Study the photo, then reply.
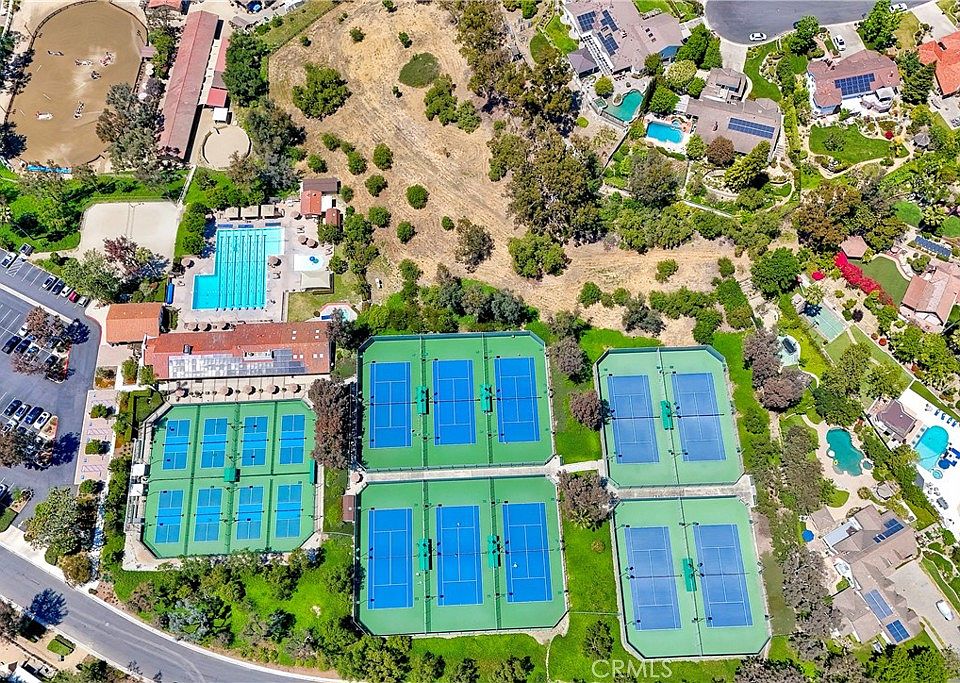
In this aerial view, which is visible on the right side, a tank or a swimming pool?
swimming pool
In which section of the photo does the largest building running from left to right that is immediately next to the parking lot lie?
left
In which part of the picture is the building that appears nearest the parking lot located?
left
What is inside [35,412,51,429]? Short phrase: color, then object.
white car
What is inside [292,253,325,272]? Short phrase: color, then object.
white swimming pool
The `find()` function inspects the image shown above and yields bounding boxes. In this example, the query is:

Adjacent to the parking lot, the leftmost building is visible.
[102,303,164,344]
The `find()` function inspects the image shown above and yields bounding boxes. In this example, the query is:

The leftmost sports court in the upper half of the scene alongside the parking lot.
[79,200,180,270]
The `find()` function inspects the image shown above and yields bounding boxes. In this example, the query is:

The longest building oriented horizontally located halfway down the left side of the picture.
[141,322,330,380]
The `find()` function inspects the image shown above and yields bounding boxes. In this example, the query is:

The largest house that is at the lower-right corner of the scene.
[831,505,922,644]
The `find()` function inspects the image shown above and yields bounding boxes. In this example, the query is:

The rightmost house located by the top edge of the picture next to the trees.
[918,32,960,100]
